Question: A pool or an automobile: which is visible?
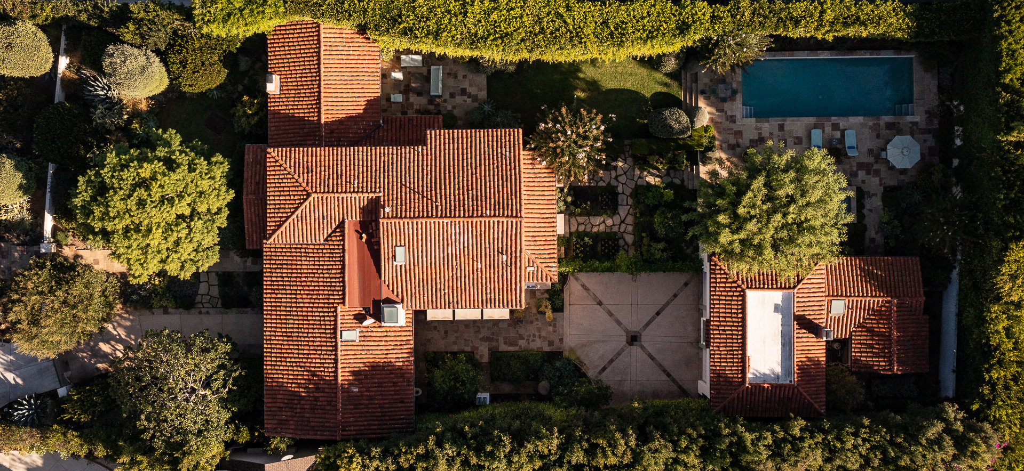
pool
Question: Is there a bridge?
No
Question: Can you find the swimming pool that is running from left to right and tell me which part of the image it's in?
top right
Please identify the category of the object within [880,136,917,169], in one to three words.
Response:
umbrella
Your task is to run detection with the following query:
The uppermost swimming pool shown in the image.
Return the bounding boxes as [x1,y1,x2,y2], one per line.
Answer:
[742,57,913,118]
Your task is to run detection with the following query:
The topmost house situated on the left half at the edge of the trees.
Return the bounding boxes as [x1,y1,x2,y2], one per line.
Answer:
[243,17,564,442]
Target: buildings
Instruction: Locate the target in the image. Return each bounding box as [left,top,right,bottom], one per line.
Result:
[243,17,564,442]
[692,251,932,420]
